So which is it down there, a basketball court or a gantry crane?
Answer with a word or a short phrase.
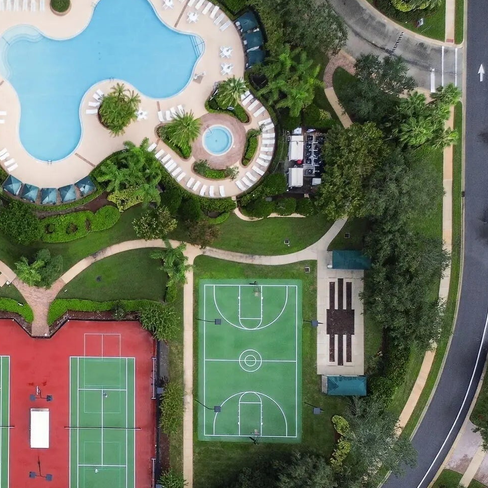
basketball court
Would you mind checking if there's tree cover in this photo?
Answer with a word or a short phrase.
Yes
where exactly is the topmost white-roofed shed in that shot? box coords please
[285,136,303,163]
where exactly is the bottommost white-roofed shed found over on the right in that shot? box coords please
[284,168,302,189]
